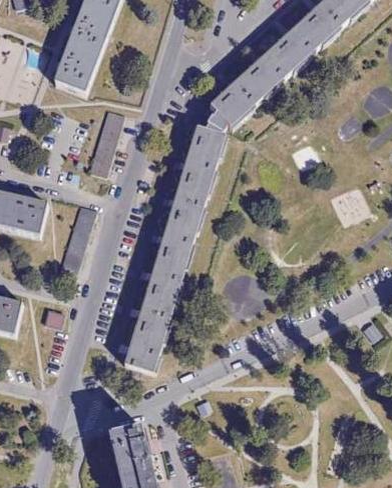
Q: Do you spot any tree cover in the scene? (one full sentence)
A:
Yes, tree cover can be seen from above here.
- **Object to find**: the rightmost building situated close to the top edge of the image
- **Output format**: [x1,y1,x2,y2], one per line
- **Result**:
[211,0,379,135]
